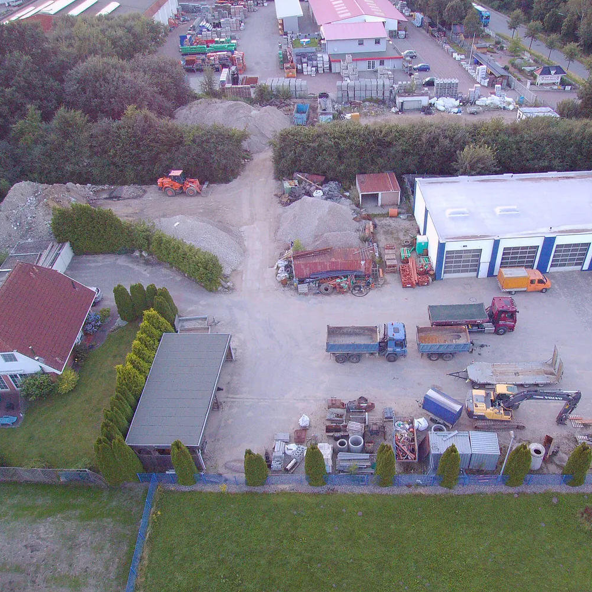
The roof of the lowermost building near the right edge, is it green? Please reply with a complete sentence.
No, the color of the roof of the lowermost building near the right edge is white.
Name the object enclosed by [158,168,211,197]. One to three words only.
work vehicle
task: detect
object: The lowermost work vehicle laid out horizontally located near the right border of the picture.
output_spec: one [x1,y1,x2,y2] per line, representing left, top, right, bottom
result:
[464,382,578,431]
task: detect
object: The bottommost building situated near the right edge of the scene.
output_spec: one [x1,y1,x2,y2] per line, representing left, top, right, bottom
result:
[414,170,592,279]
